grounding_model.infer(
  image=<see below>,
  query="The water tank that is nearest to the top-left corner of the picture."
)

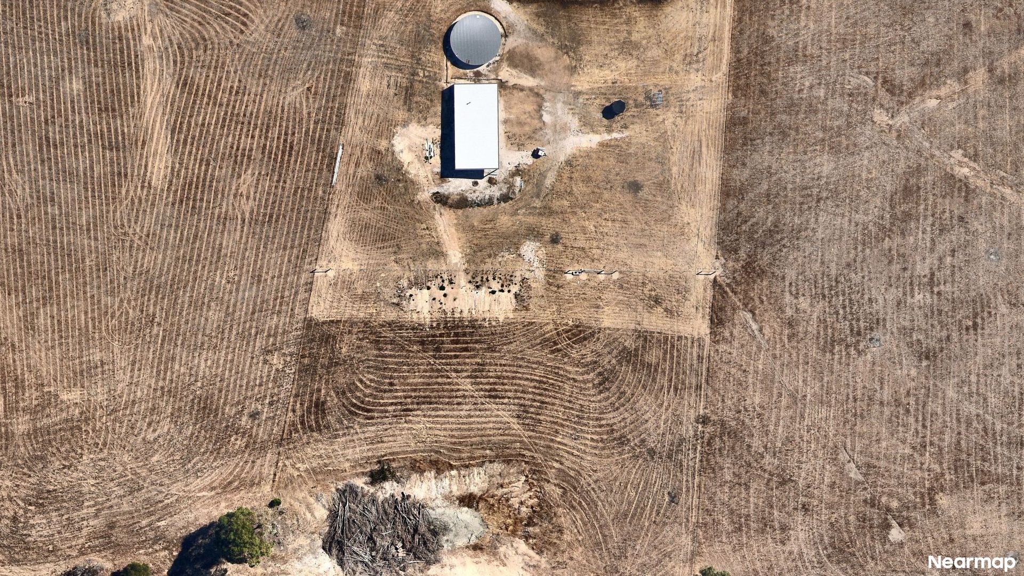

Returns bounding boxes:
[450,14,502,66]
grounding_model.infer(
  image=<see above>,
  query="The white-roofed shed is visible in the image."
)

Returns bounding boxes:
[455,83,499,169]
